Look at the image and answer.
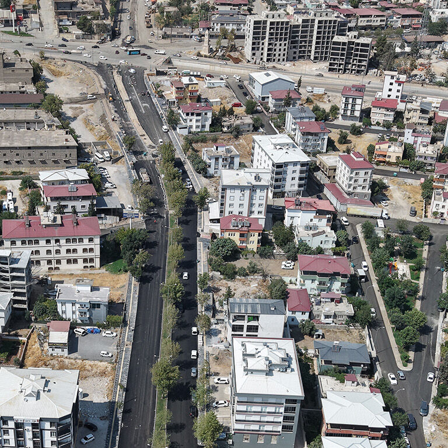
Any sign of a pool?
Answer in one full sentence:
No, no pool is visible in the scene.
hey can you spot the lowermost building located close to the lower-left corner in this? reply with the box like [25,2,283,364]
[0,369,82,448]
